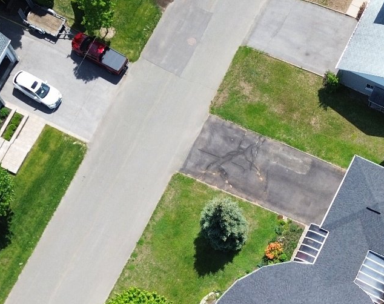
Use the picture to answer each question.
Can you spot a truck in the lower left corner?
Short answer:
No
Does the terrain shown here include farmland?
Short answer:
No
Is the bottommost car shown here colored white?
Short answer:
Yes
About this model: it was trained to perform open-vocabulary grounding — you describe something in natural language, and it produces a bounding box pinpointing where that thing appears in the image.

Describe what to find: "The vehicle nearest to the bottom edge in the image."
[10,69,64,110]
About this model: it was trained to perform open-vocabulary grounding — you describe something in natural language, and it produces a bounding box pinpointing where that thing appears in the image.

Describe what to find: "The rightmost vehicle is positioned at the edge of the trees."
[69,34,135,78]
